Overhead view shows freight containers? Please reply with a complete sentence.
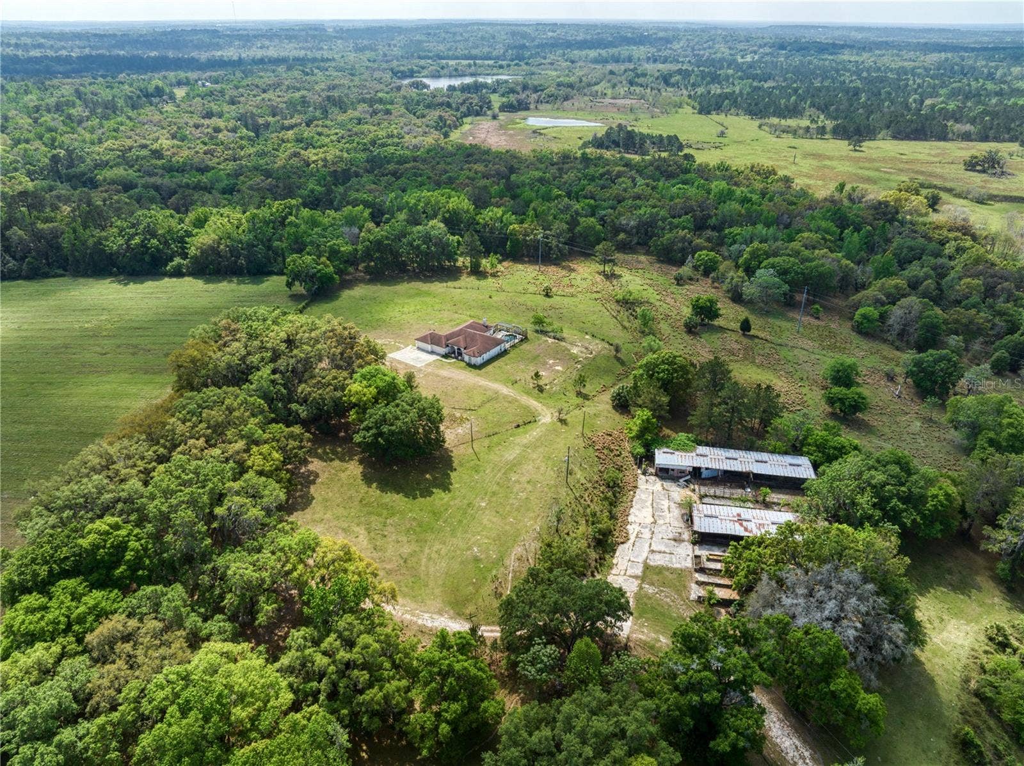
No, there isn't any freight container down there.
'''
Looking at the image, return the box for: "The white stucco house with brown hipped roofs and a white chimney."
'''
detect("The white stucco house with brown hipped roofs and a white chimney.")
[412,319,508,366]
